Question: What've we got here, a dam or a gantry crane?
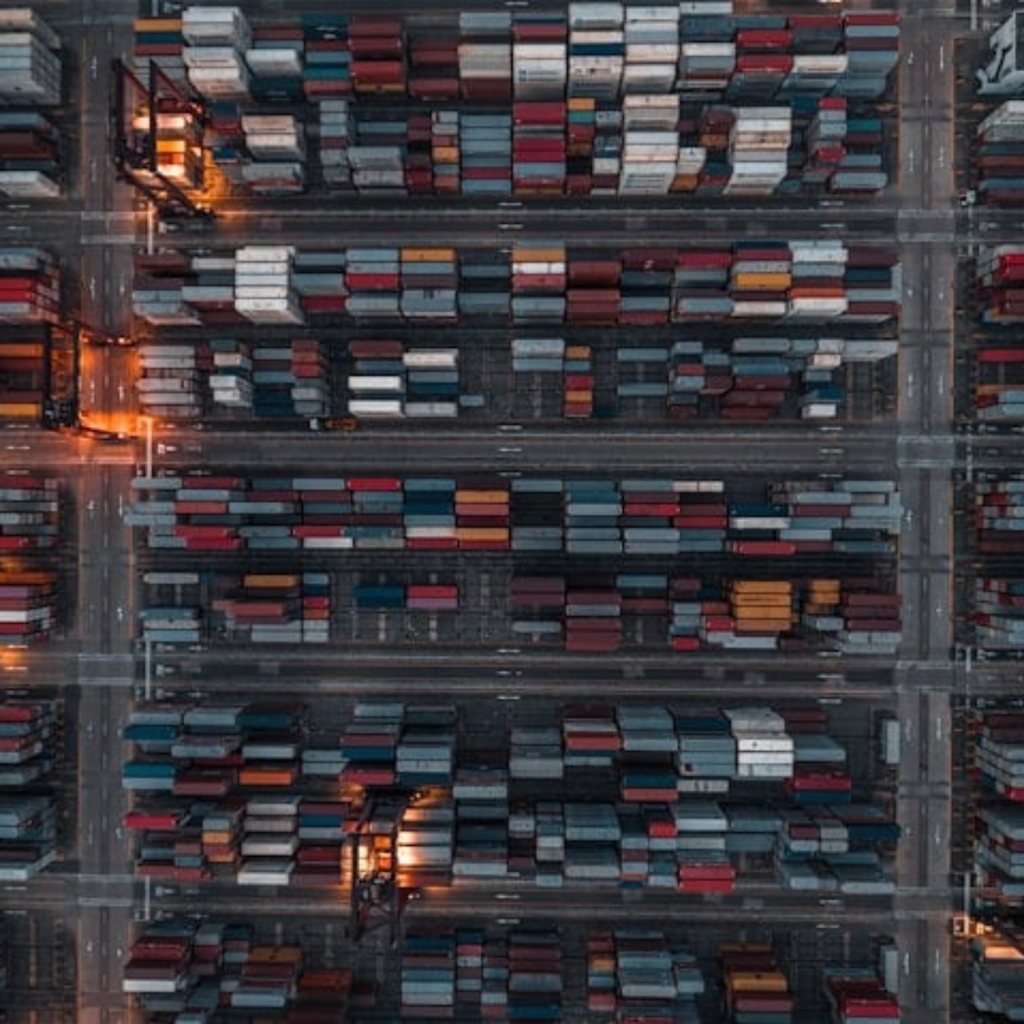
gantry crane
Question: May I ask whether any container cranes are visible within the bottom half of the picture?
Yes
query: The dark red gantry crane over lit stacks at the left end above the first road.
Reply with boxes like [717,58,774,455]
[113,53,205,213]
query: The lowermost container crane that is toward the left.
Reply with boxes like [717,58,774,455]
[346,782,418,937]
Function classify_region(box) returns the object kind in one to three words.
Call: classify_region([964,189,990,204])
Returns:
vehicle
